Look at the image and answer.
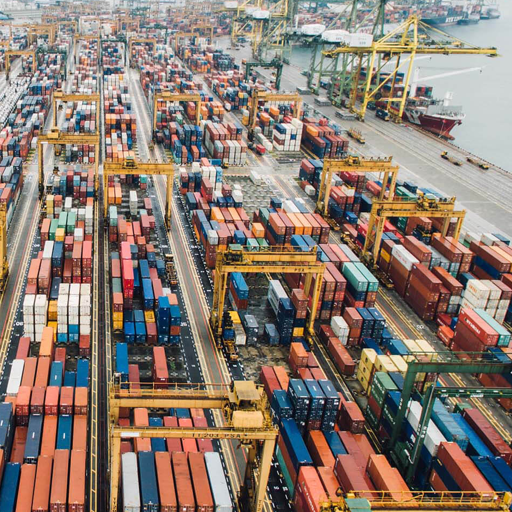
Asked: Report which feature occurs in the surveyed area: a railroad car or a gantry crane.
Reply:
gantry crane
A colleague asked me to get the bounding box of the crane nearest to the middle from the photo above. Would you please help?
[206,240,325,349]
